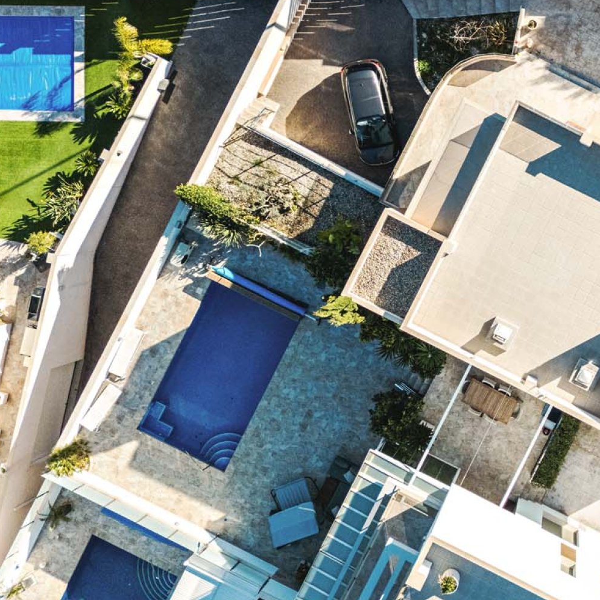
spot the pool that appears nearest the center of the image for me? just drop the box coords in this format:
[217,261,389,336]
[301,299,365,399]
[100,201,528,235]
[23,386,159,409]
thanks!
[138,279,305,471]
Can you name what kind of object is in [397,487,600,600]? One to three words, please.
house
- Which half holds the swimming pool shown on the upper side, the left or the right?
left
